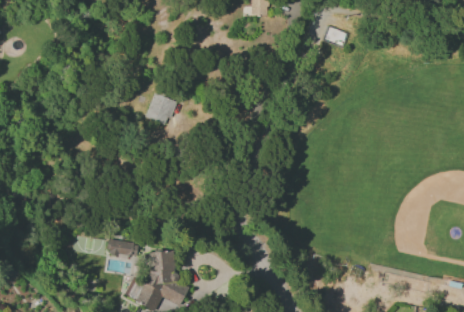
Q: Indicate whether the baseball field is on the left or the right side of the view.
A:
right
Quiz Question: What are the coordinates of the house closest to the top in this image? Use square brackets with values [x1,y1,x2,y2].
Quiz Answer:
[243,0,268,16]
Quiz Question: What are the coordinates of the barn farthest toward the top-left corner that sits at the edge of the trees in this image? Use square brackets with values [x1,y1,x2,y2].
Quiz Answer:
[146,94,176,124]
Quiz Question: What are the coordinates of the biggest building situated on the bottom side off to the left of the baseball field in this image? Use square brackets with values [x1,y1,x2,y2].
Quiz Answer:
[125,250,190,312]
